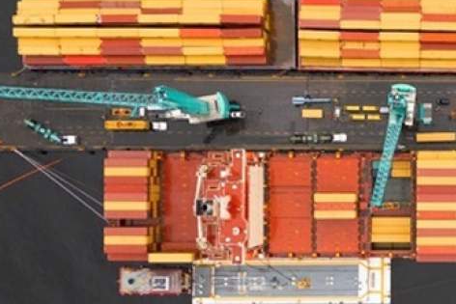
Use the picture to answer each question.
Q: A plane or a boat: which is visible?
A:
boat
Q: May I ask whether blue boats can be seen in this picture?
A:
No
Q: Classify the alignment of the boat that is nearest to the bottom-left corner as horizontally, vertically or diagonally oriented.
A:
horizontally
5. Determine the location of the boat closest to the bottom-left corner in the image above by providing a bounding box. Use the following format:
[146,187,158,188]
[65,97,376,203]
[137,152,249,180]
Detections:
[120,266,188,295]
